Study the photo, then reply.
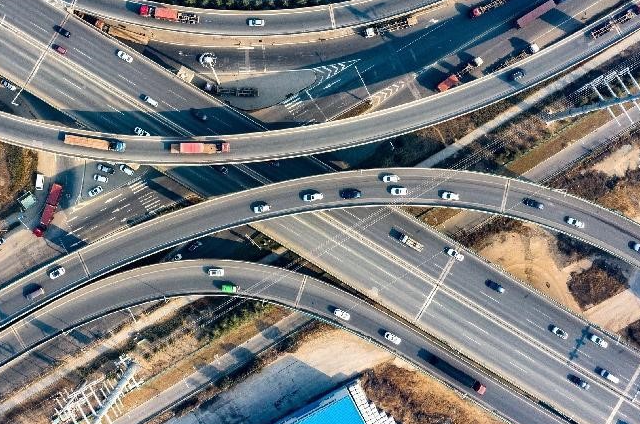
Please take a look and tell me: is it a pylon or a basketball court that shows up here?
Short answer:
pylon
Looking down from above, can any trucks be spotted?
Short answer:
Yes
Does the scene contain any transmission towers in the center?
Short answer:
No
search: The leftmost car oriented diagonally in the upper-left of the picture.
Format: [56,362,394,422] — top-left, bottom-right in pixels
[2,78,17,90]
